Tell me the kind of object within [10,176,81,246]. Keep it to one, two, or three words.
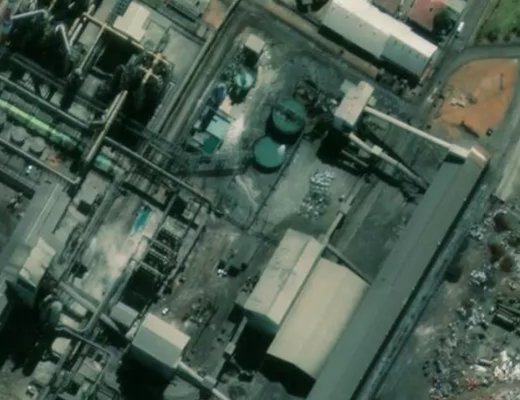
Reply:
building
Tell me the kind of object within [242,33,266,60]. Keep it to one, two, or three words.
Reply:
shed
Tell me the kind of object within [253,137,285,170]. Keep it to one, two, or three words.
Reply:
storage tank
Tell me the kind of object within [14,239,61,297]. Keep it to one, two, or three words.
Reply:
house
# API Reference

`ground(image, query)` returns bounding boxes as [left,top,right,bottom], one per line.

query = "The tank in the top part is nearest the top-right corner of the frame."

[272,100,306,136]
